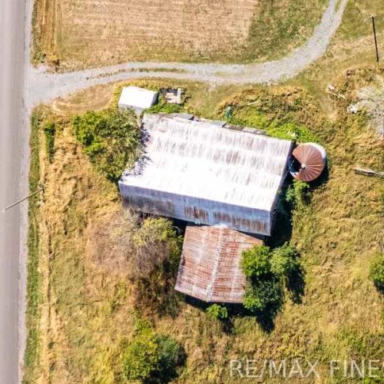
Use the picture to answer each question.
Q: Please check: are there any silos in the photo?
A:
Yes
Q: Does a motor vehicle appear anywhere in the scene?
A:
No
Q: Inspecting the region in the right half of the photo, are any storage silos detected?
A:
Yes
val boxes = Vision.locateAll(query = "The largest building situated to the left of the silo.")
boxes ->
[118,109,293,235]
